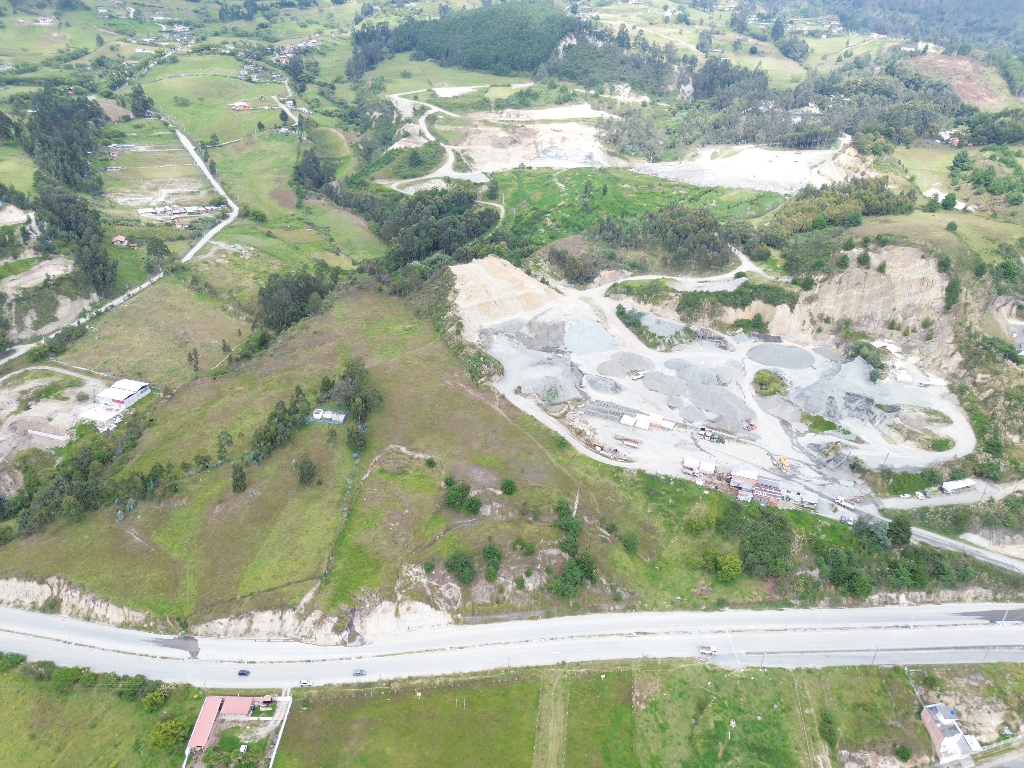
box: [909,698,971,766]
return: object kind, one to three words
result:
house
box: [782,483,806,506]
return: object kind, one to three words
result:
building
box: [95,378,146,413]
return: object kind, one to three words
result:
building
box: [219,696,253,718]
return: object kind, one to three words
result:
house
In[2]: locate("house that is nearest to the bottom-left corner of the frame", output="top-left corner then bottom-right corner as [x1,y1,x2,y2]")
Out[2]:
[187,695,223,753]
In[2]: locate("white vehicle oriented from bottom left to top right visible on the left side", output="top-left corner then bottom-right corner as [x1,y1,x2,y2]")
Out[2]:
[236,742,250,758]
